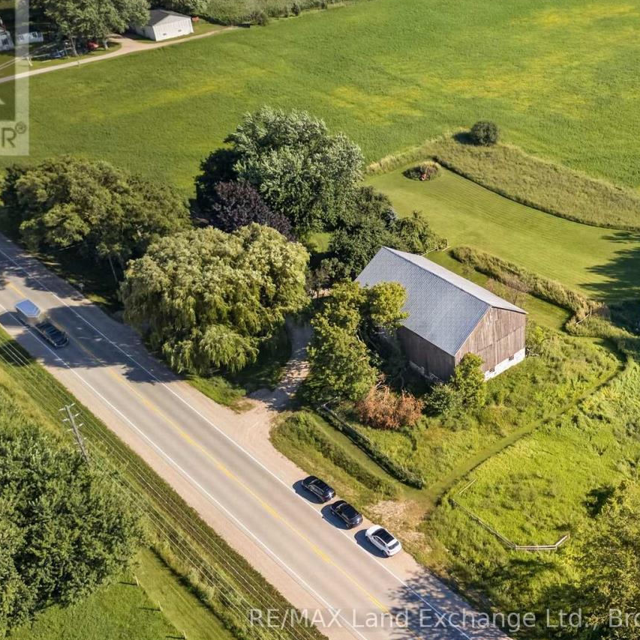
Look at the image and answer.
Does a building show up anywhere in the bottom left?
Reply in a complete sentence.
No, no building is visible in the bottom left.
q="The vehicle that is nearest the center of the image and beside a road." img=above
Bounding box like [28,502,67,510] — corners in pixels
[299,475,335,504]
